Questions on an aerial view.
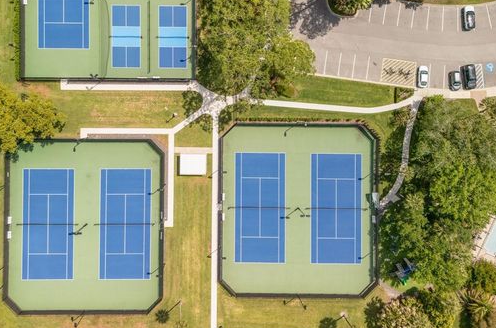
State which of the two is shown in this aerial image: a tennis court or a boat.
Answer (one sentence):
There is a tennis court in the scene.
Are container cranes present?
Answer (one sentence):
No, there appears to be no container crane in this shot.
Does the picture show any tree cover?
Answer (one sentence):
Yes, there is tree cover in the image.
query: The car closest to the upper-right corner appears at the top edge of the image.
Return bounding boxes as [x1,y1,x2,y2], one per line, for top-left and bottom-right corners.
[464,6,477,29]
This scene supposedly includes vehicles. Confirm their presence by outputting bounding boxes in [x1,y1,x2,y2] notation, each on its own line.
[464,6,477,29]
[450,71,462,91]
[464,65,479,89]
[417,65,429,87]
